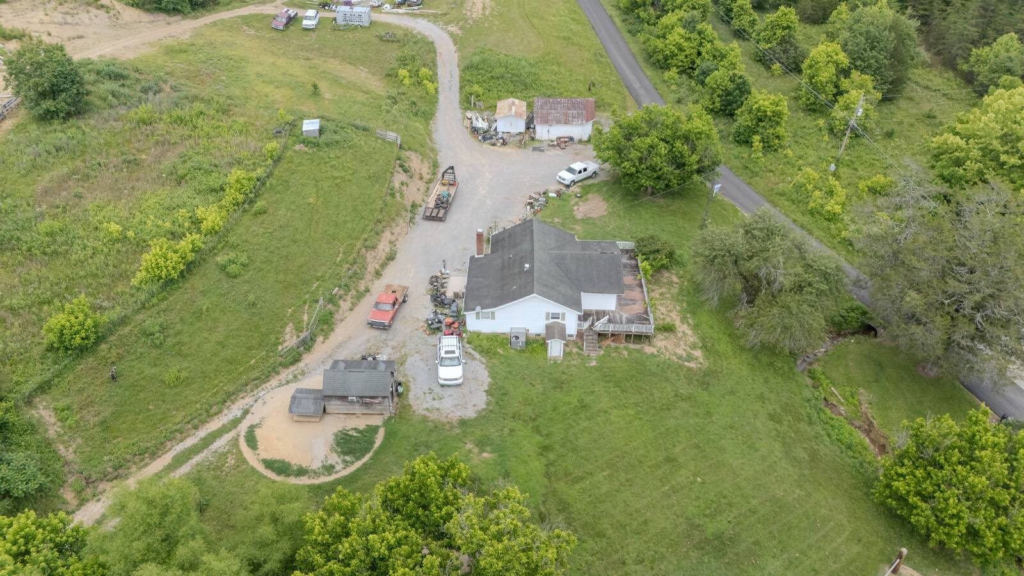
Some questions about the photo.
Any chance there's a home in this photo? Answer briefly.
Yes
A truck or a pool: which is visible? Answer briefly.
truck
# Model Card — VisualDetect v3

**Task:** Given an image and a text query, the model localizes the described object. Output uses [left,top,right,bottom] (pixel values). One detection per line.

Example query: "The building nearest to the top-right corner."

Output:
[534,98,596,142]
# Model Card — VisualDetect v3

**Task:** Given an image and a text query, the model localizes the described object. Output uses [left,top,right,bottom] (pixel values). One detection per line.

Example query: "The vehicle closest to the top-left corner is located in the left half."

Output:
[272,12,298,31]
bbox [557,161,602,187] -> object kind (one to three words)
truck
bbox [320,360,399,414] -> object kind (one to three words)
barn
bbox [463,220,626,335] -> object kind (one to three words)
house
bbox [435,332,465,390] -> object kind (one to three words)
car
